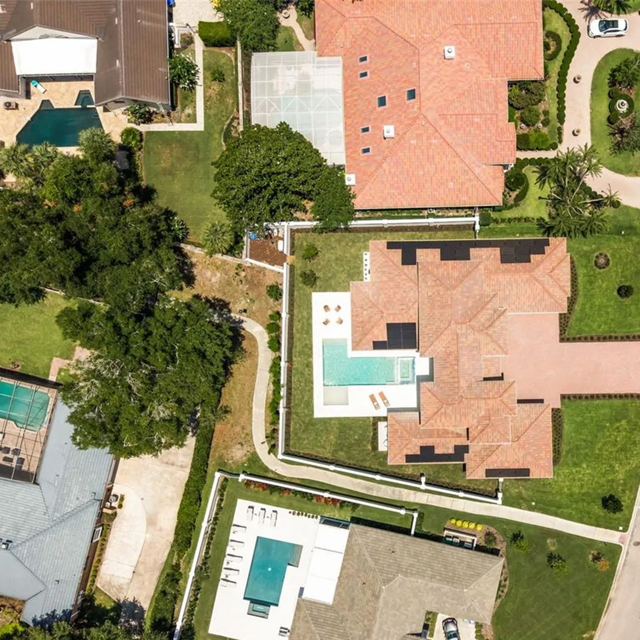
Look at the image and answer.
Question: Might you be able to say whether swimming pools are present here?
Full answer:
Yes, you can see a swimming pool in this photo.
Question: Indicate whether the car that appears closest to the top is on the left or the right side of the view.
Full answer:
The car that appears closest to the top is on the right side of the image.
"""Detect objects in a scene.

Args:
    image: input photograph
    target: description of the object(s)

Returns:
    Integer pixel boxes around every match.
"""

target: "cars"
[441,617,461,640]
[588,16,628,38]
